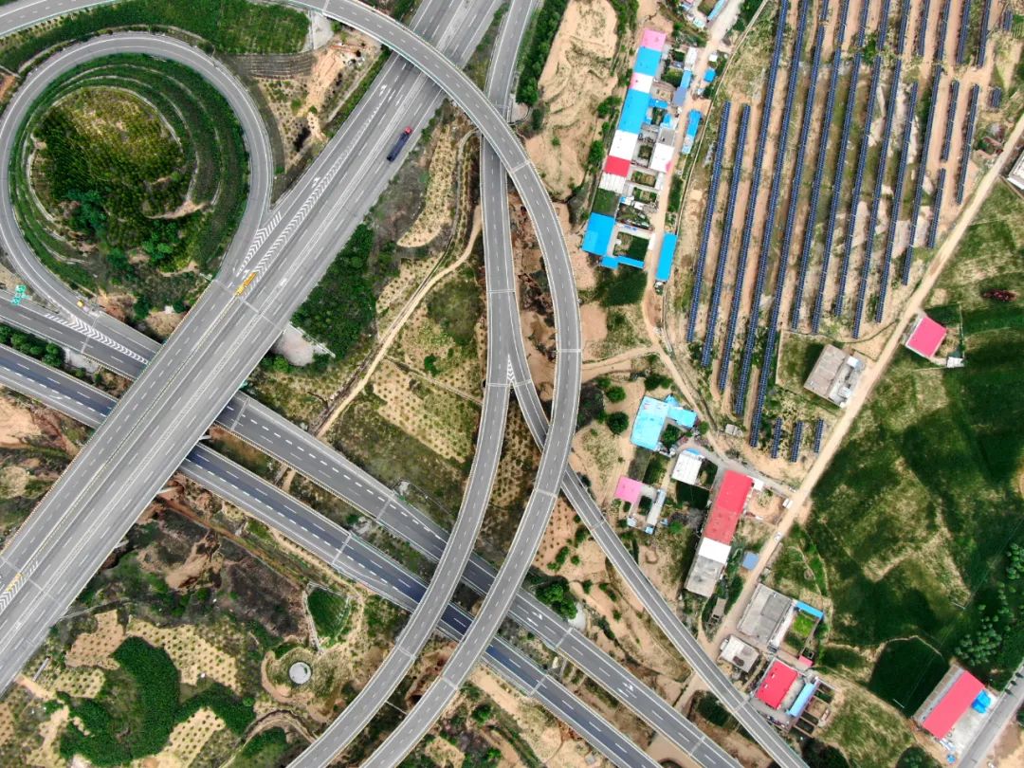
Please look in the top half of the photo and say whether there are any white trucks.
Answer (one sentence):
No, in the top half of the photo there is no white truck.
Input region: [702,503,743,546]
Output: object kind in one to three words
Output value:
building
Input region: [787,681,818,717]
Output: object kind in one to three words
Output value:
shed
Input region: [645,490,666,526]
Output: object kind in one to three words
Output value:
house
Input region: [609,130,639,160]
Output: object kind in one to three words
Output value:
house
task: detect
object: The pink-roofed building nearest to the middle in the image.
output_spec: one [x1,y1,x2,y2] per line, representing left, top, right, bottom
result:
[614,476,643,503]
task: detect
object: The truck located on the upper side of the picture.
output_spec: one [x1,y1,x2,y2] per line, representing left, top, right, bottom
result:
[385,124,414,161]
